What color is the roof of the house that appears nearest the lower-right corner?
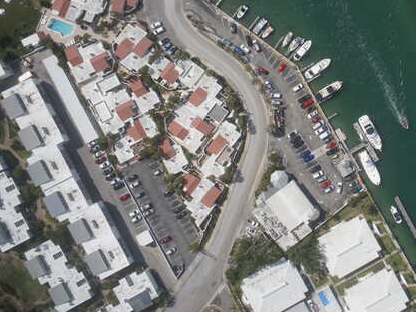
white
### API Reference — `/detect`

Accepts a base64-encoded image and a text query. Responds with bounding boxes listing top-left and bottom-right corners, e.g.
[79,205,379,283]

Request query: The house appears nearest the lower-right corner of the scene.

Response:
[343,265,408,312]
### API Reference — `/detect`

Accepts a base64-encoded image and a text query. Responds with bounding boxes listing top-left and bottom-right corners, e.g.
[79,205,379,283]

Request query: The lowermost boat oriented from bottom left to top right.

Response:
[313,81,343,102]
